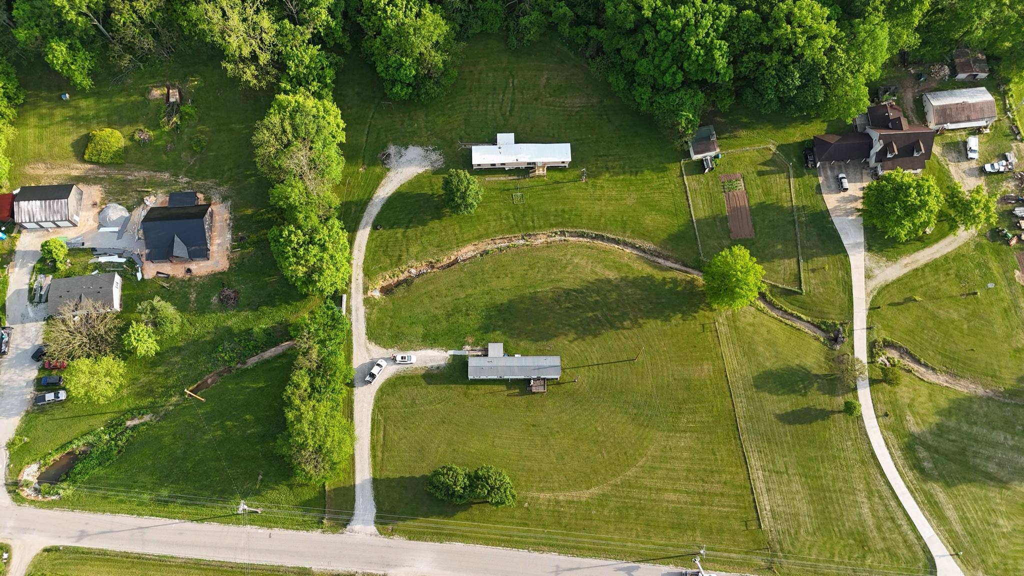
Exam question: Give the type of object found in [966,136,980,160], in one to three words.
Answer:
vehicle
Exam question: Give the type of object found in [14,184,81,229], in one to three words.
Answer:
building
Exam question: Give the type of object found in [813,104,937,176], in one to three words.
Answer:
house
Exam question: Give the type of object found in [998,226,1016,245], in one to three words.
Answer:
work vehicle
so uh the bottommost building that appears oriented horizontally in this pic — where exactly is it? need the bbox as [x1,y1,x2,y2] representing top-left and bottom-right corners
[468,343,561,380]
